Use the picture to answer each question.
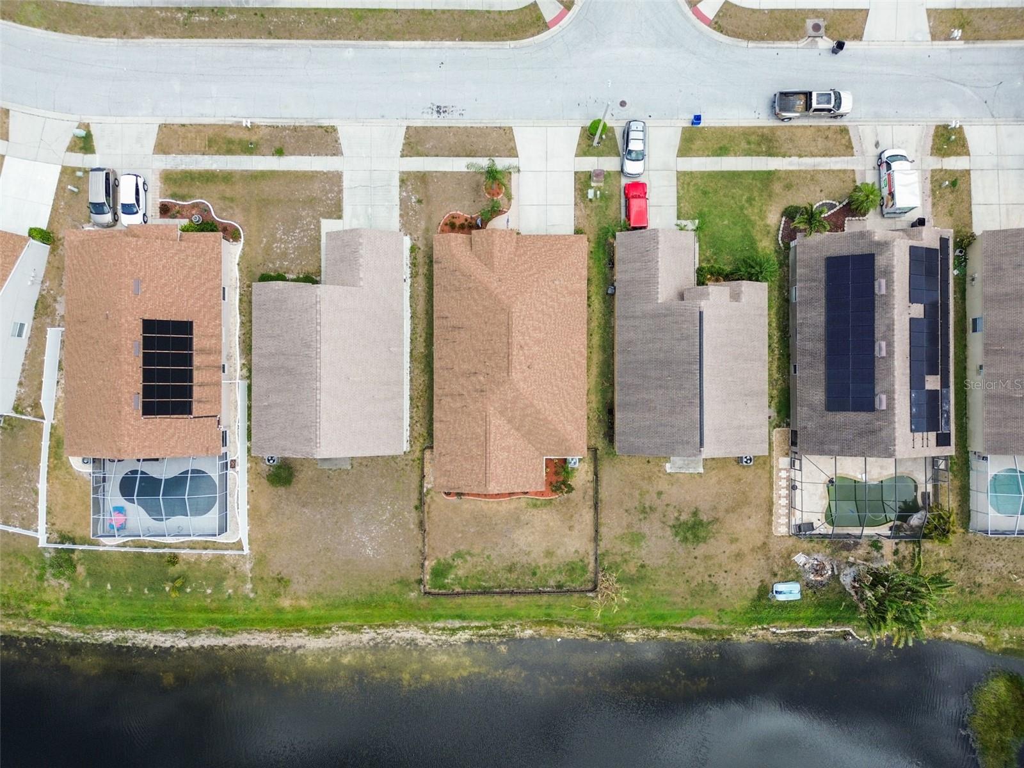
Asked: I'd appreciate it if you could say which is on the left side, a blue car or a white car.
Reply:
white car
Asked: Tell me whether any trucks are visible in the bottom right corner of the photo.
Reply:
No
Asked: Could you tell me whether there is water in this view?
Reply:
Yes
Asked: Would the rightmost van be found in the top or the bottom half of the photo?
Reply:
top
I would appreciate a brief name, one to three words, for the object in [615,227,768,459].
house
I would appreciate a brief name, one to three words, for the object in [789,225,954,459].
house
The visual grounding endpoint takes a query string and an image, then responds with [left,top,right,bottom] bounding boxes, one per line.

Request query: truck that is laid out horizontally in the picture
[769,86,848,120]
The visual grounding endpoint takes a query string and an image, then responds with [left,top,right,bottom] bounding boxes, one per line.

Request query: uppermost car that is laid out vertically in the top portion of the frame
[622,121,649,179]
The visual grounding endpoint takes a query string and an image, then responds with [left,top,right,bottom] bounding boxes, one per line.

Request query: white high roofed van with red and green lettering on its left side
[879,148,921,217]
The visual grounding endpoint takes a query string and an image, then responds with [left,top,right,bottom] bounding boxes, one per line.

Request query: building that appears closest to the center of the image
[433,228,588,498]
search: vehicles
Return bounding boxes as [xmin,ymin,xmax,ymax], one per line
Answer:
[769,86,848,120]
[87,167,121,229]
[879,148,921,217]
[624,180,649,230]
[622,121,649,179]
[118,173,149,228]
